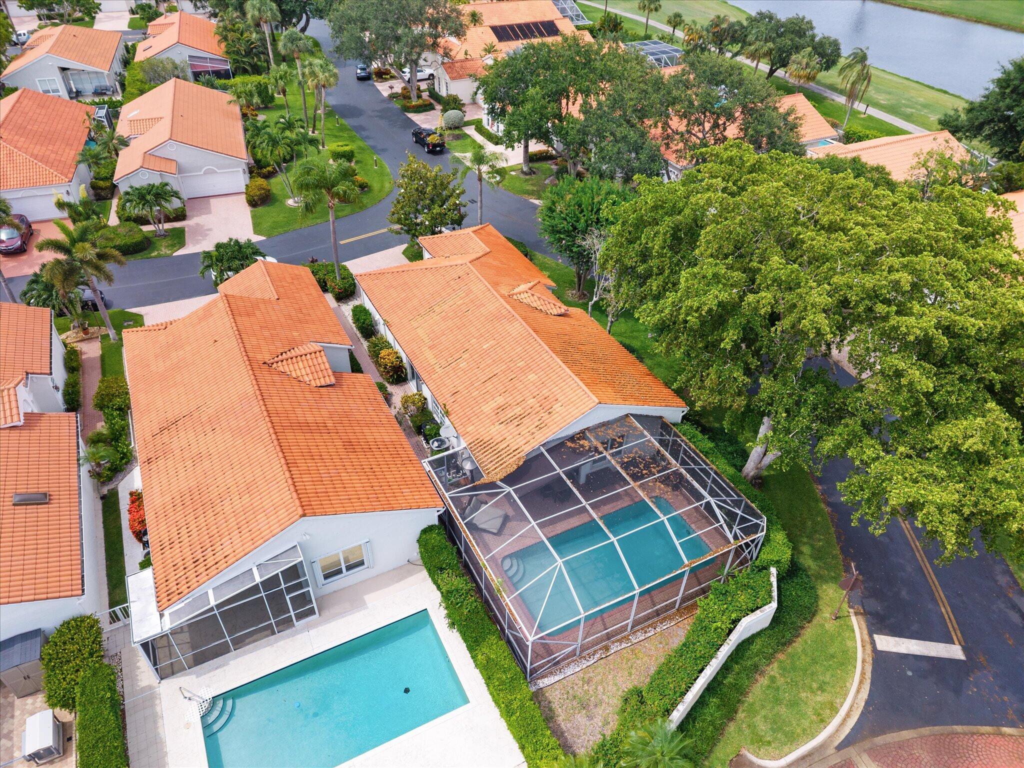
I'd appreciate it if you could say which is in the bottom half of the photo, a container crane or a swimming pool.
swimming pool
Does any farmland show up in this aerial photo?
No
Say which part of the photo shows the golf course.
top right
